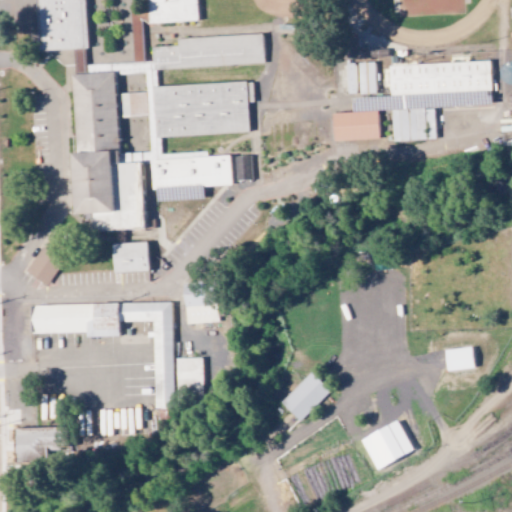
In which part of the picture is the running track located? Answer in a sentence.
You can find the running track in the top right area of the picture.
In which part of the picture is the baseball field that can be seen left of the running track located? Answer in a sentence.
Look in the top portion of the view to spot the baseball field that can be seen left of the running track.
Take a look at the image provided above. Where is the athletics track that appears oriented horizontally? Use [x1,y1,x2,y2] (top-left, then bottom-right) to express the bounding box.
[360,0,501,46]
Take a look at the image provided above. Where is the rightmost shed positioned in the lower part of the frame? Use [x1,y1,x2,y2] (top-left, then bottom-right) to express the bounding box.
[446,346,476,372]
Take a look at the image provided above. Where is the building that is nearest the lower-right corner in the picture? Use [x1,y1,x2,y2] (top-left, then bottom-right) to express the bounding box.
[362,422,414,472]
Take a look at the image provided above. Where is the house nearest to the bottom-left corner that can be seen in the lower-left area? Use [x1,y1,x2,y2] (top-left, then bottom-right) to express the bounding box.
[16,428,60,464]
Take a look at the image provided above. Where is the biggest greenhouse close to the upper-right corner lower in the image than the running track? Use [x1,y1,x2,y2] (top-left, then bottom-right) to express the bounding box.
[392,61,494,95]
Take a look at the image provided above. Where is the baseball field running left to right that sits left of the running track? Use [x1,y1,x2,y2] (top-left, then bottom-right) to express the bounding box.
[206,0,294,26]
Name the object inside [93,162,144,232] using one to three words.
building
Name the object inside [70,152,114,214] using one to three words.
building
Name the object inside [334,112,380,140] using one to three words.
barn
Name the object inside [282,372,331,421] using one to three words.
house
